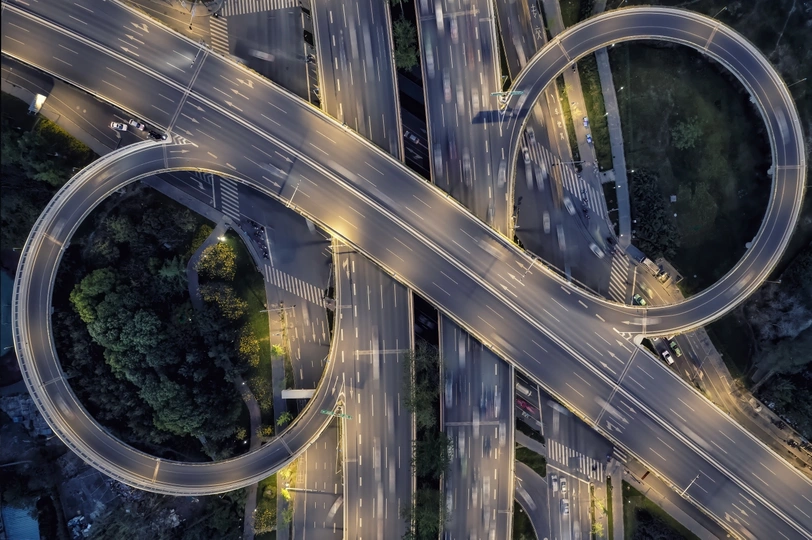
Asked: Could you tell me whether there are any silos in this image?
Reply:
No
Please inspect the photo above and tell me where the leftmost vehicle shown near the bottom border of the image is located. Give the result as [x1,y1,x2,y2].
[326,500,341,519]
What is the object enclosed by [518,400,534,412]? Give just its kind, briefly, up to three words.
vehicle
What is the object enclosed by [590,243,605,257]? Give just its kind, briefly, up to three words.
car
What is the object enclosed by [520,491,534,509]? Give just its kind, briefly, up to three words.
vehicle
